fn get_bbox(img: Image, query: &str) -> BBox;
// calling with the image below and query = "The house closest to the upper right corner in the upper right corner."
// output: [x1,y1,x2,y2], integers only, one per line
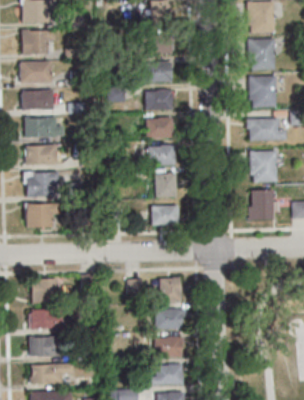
[247,0,276,33]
